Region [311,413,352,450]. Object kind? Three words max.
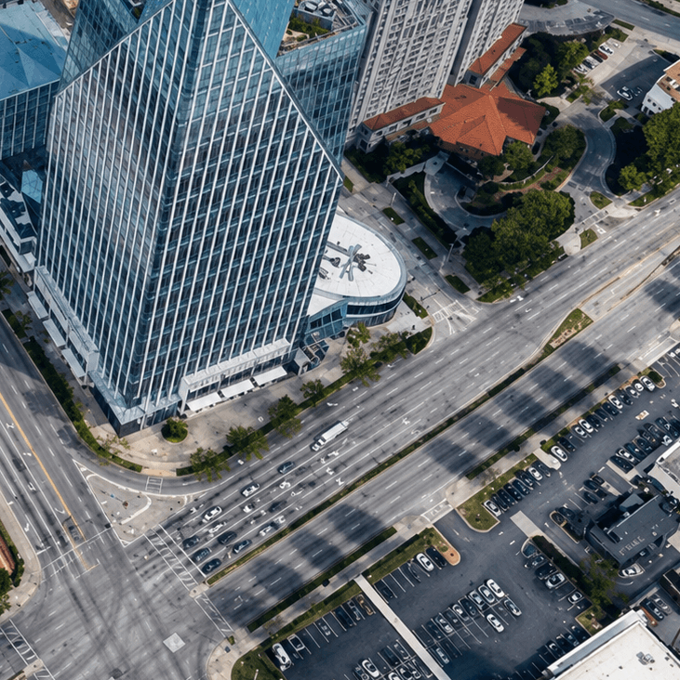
truck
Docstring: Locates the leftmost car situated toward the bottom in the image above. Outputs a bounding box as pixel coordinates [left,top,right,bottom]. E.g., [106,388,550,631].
[10,454,27,476]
